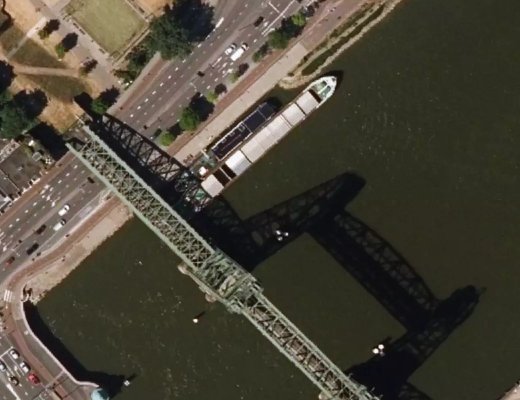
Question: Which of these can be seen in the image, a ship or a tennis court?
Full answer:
There is a ship in the scene.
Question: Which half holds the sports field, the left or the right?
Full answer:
The sports field appears in the left half of the scene.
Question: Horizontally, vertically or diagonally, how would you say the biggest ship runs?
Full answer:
In this picture, the biggest ship lies diagonally.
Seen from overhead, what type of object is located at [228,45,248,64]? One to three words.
vehicle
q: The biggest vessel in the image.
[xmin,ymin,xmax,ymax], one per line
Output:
[183,76,338,211]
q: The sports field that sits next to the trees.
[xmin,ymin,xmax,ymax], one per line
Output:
[67,0,150,58]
